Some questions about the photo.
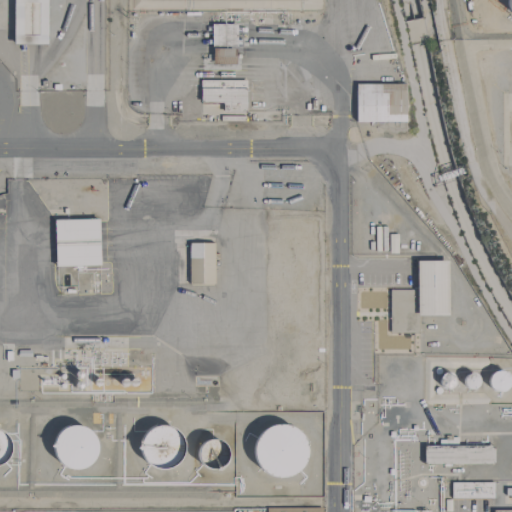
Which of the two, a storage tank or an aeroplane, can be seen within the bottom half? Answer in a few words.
storage tank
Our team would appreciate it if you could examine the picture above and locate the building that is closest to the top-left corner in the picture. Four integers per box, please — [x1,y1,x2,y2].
[15,0,49,44]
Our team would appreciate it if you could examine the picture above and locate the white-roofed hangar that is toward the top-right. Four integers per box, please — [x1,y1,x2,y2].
[358,83,410,122]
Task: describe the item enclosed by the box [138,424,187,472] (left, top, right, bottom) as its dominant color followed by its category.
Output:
white storage tank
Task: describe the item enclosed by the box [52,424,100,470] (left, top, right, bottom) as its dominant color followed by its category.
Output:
white storage tank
